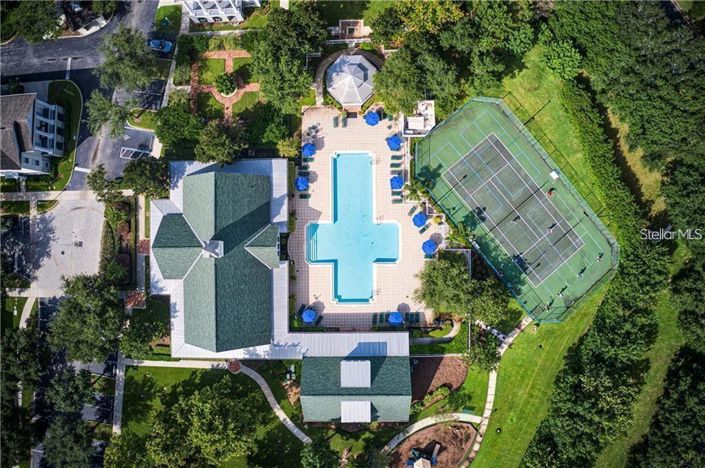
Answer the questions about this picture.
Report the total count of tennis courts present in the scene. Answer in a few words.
1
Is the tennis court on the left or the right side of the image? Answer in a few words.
right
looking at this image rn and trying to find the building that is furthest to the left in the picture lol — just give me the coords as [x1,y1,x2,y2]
[0,92,67,181]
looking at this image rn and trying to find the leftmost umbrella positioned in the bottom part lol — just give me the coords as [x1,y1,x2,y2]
[301,308,317,323]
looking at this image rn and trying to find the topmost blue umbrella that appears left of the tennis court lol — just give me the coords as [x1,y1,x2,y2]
[364,111,379,126]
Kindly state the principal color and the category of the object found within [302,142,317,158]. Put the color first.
blue umbrella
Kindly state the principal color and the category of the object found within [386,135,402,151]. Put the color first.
blue umbrella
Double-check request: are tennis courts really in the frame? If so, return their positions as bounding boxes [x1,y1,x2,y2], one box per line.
[414,103,611,319]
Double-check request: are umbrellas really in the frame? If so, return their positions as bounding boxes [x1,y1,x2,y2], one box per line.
[364,111,379,126]
[386,135,402,151]
[421,239,437,255]
[294,176,310,192]
[302,142,317,158]
[389,175,404,191]
[388,310,403,326]
[301,308,317,323]
[412,212,428,228]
